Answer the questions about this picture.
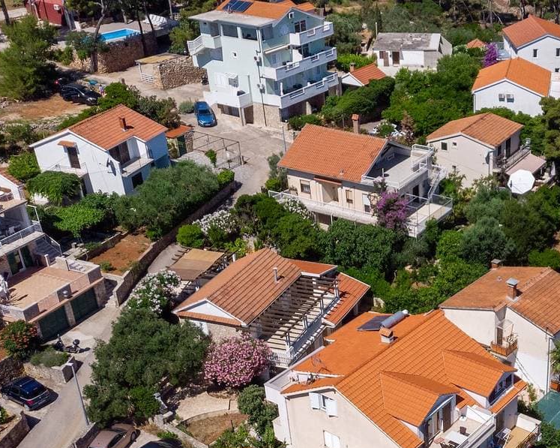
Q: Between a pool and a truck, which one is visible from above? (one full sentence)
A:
The one in the frame is a pool.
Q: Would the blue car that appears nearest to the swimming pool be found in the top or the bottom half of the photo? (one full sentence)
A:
Seen from above, the blue car that appears nearest to the swimming pool lies in the top half of the view.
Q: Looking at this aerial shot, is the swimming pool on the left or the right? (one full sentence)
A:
The swimming pool is on the left side of the image.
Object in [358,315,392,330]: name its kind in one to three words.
solar panel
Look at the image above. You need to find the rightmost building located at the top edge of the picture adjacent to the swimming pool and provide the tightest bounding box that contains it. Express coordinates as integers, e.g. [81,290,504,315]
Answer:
[184,0,338,128]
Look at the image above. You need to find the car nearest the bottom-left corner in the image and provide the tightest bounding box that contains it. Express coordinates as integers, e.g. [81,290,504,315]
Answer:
[0,376,48,408]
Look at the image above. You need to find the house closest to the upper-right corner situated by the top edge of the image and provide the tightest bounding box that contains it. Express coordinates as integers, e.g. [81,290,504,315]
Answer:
[502,16,560,89]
